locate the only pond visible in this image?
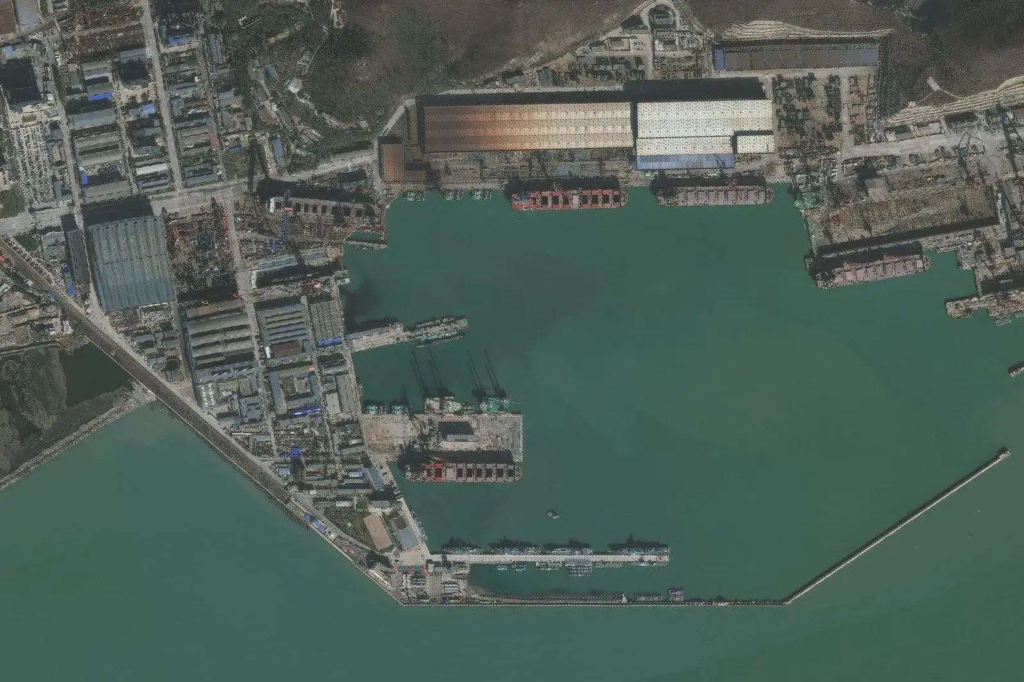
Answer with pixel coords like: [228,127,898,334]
[59,339,134,407]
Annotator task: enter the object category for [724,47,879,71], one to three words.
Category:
shed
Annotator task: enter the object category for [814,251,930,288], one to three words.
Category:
ship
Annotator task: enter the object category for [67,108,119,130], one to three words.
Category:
building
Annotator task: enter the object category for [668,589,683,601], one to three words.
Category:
ship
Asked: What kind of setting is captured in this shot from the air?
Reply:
port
